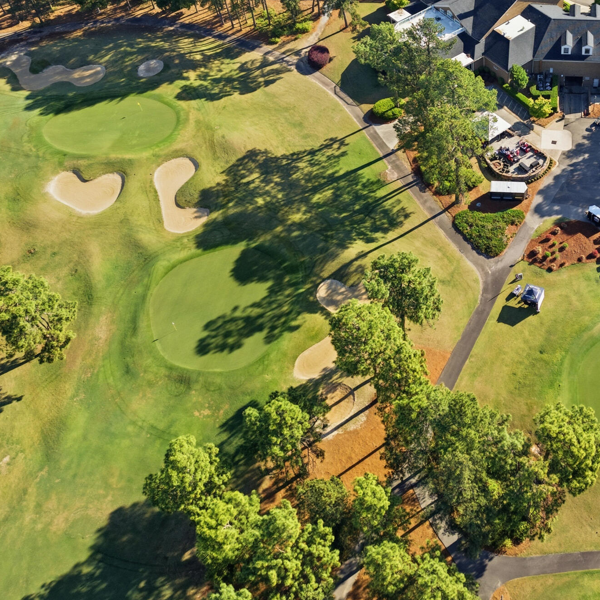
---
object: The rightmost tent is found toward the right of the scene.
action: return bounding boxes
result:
[520,284,544,312]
